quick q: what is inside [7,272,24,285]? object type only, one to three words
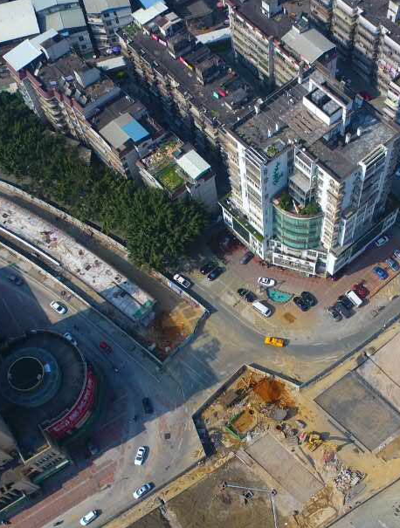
vehicle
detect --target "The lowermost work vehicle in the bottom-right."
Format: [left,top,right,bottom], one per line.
[303,430,334,454]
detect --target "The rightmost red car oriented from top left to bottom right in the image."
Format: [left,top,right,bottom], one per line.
[352,281,369,297]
